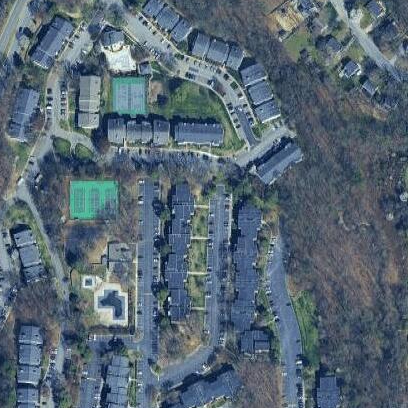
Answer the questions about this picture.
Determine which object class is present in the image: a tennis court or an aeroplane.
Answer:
tennis court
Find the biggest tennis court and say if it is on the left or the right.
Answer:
left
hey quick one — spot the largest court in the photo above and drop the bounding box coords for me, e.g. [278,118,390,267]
[69,181,118,220]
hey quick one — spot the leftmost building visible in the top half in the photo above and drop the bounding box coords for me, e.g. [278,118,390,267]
[8,90,39,142]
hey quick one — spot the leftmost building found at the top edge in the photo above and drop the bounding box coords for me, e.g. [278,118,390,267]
[31,19,74,71]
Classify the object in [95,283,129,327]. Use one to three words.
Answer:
swimming pool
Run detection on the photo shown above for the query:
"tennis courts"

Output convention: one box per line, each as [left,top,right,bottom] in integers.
[69,181,118,220]
[112,77,146,115]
